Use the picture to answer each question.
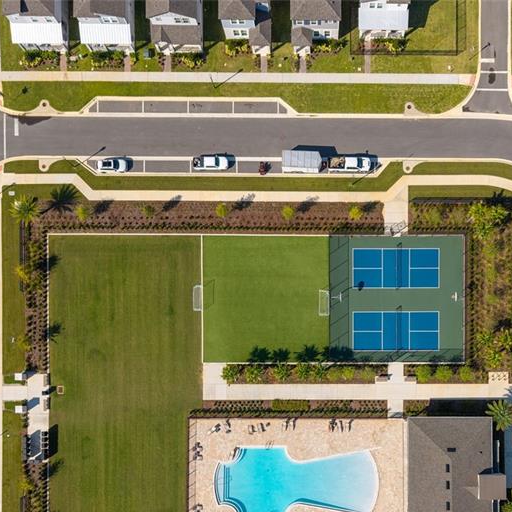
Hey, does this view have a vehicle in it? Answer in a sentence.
Yes, this view includes a vehicle.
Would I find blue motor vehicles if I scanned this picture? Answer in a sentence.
No, no blue motor vehicle is visible in the scene.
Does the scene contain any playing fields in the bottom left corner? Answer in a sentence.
Yes, a playing field shows up in the bottom left corner.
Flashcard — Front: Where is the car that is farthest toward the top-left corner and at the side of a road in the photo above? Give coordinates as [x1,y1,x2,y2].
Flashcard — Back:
[98,158,128,173]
